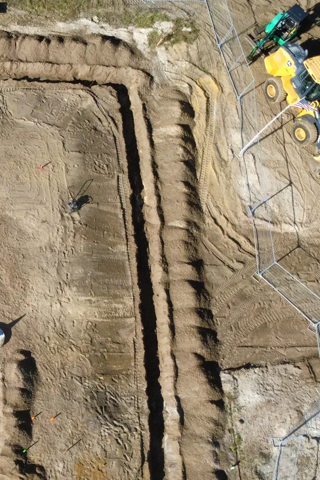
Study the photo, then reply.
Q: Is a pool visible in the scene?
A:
No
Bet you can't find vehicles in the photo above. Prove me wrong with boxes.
[244,3,314,60]
[255,43,320,178]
